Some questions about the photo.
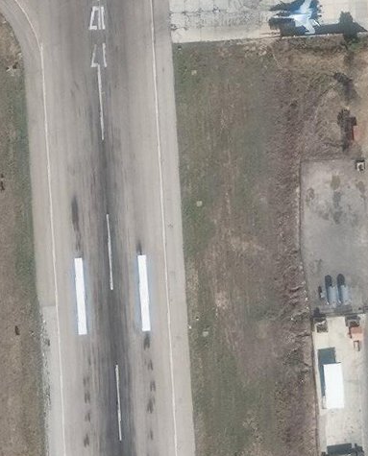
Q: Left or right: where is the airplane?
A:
right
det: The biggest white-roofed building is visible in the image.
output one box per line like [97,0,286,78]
[324,363,343,413]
